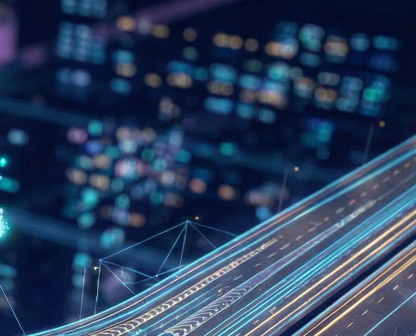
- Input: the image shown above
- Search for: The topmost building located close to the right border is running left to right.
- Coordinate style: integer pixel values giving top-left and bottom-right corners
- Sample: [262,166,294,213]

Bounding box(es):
[308,15,409,68]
